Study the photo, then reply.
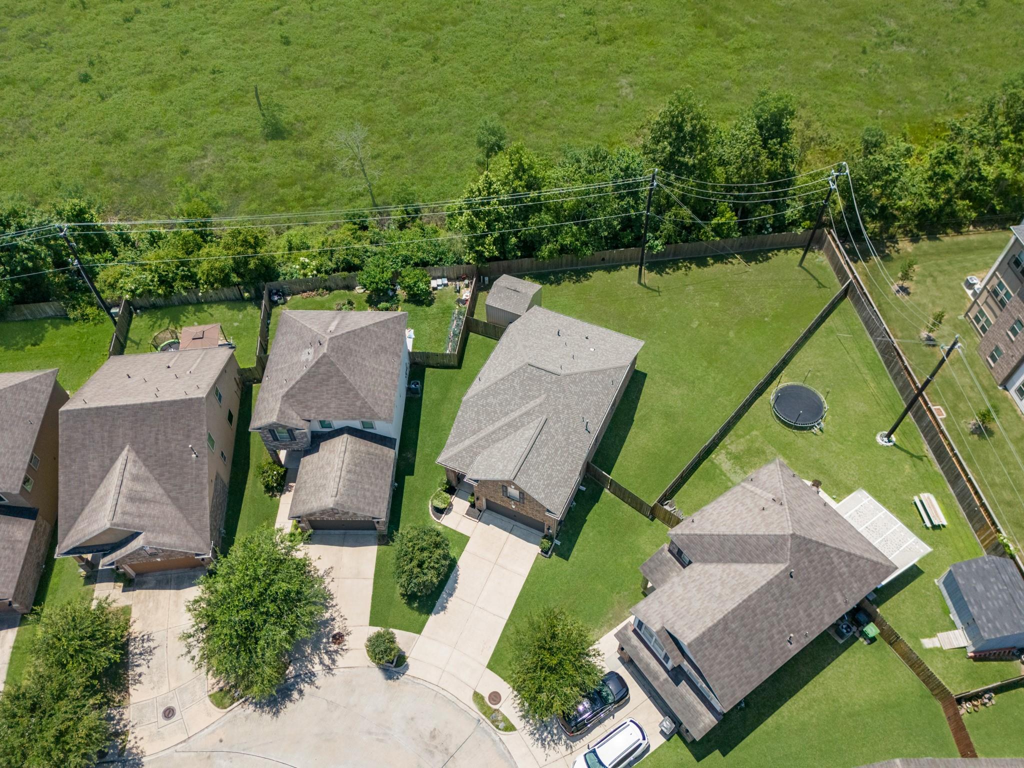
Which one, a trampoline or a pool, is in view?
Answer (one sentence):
Looking from above, you can make out a trampoline.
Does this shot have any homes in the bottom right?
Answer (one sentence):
Yes, a home appears in the bottom right.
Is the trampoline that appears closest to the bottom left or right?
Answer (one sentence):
It is on the right.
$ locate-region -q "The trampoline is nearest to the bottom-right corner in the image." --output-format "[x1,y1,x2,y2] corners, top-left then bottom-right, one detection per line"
[763,368,837,437]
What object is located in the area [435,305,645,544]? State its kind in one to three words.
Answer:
house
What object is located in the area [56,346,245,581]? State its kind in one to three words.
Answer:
house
